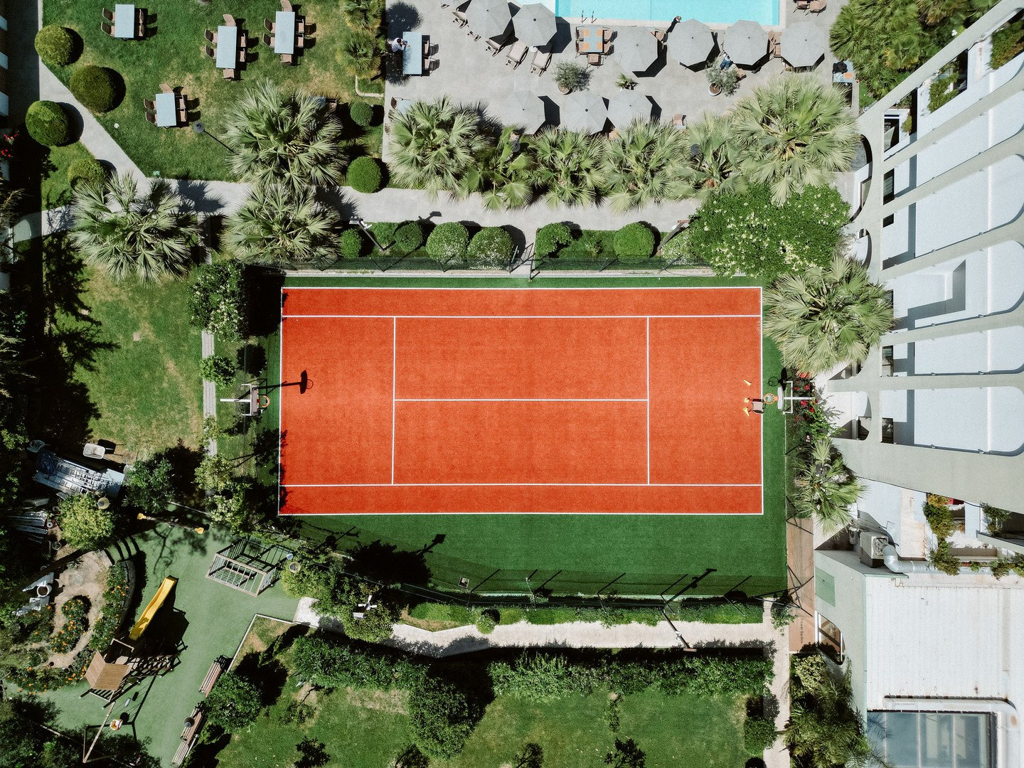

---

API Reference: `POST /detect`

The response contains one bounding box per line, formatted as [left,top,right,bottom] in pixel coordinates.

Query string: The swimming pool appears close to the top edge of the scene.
[557,0,779,25]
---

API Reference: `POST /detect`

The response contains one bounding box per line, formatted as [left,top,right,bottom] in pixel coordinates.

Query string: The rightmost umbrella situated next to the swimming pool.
[780,21,825,68]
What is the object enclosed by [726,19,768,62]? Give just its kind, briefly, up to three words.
umbrella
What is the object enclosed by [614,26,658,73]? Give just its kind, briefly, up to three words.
umbrella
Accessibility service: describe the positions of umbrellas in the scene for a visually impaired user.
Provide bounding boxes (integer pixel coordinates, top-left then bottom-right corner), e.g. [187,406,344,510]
[465,0,511,41]
[780,21,825,68]
[726,19,768,62]
[502,90,545,133]
[512,0,557,49]
[608,87,650,130]
[614,26,658,73]
[564,90,608,133]
[667,17,715,67]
